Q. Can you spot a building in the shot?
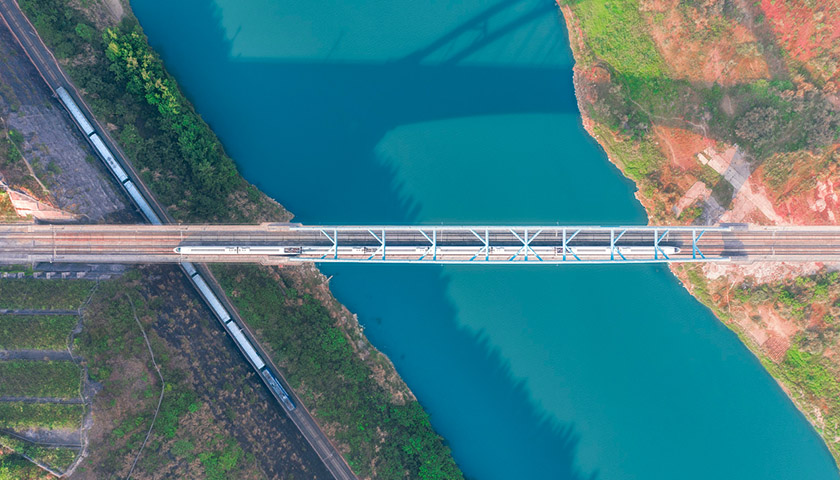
No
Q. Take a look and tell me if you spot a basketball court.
No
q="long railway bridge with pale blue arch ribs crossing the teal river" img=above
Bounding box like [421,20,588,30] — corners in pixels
[0,222,840,265]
